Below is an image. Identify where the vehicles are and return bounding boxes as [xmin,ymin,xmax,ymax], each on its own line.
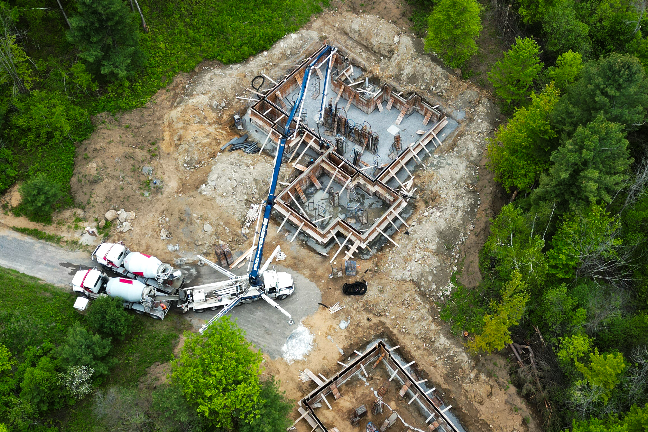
[84,240,188,299]
[178,44,338,331]
[67,268,182,322]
